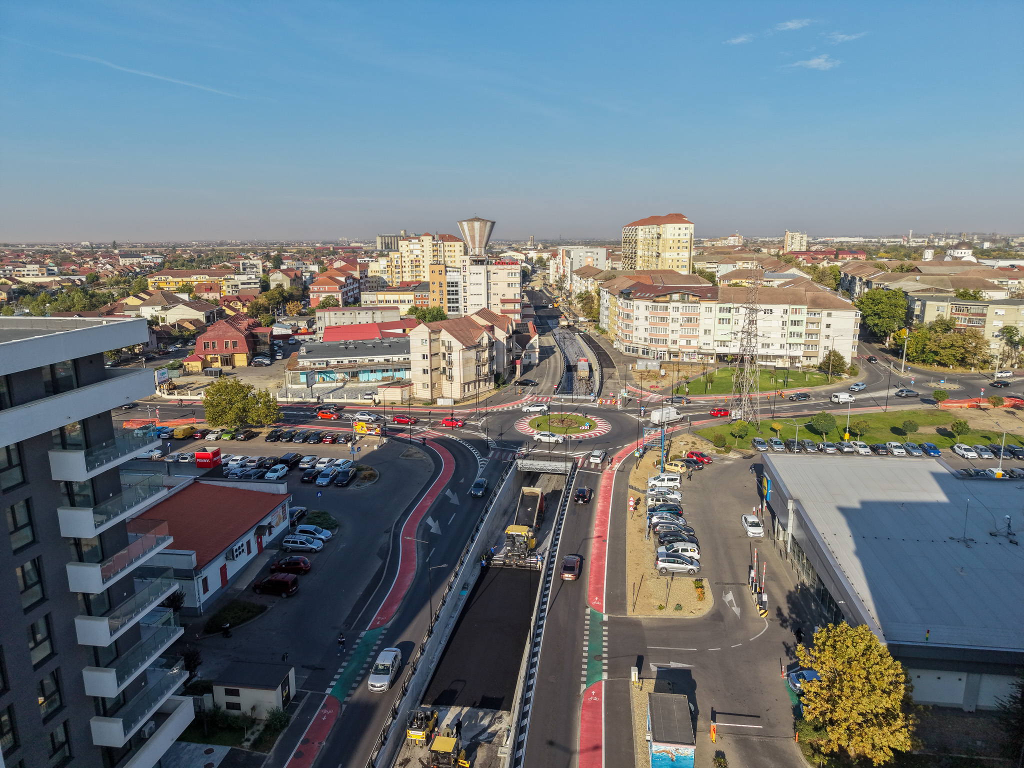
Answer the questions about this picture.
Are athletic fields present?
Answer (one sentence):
No, I can see no athletic field in this picture.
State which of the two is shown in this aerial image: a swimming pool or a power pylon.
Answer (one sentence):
There is a power pylon in the scene.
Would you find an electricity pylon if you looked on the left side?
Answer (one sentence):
No, there's no electricity pylon to be seen on the left side.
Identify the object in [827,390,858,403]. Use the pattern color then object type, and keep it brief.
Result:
white vehicle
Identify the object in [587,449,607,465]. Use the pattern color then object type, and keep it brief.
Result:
white car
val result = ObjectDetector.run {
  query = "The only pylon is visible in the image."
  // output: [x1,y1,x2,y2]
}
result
[721,267,790,431]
